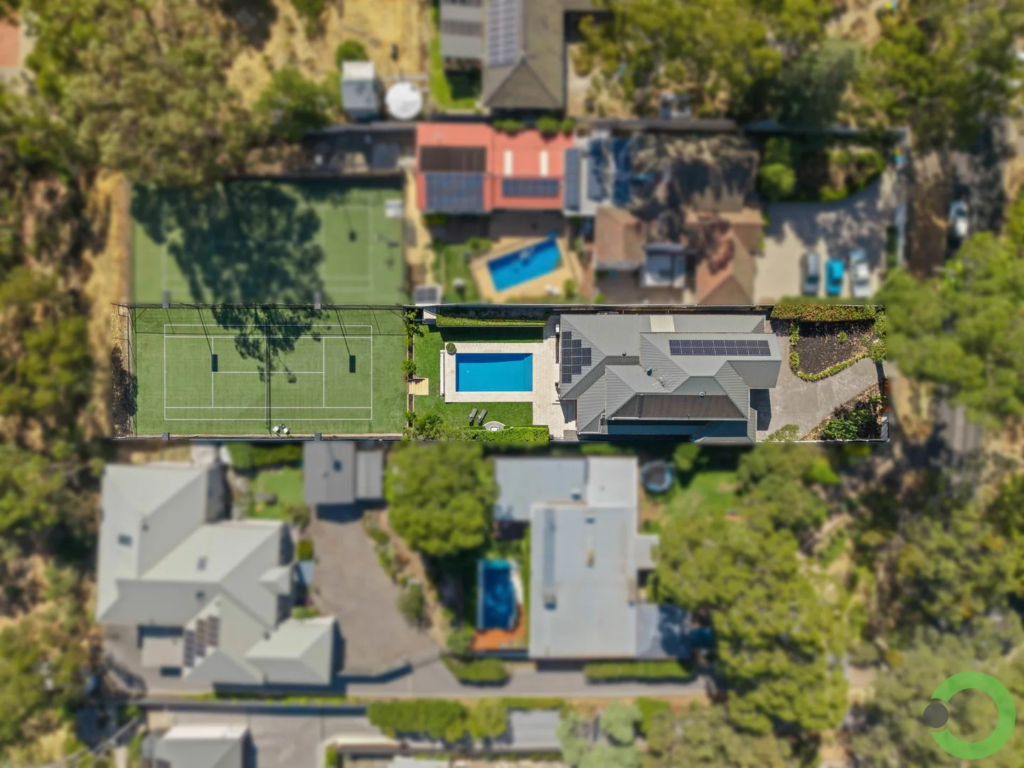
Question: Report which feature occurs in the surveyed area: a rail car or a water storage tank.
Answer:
water storage tank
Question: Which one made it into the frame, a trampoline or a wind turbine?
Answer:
trampoline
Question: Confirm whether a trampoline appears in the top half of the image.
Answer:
No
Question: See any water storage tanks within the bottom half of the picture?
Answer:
No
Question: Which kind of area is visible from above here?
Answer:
residential area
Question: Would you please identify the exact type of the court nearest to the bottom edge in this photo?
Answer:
tennis court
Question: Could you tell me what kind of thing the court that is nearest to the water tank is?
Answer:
tennis court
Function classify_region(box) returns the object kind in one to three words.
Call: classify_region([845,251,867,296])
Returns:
car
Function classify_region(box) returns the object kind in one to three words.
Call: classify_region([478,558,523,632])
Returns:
swimming pool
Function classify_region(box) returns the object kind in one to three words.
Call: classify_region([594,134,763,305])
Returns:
house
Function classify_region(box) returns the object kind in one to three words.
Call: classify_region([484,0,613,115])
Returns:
house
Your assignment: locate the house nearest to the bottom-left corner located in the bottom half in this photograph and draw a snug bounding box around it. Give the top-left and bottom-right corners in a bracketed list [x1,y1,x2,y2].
[156,720,252,768]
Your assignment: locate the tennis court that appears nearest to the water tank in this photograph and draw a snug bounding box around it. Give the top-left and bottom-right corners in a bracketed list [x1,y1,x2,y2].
[132,179,404,305]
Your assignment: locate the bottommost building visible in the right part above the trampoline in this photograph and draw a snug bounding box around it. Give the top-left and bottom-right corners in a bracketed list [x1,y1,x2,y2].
[555,314,782,445]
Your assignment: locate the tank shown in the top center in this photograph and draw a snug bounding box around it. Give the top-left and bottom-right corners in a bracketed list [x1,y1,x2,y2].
[386,82,426,126]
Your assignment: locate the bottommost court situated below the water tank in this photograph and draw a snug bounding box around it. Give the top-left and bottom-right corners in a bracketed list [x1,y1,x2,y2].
[136,308,406,435]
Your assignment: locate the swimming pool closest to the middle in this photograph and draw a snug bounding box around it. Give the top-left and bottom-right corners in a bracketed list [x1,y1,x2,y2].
[453,350,536,395]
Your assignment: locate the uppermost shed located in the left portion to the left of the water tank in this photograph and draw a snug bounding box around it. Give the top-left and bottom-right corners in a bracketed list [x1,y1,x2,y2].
[343,61,377,116]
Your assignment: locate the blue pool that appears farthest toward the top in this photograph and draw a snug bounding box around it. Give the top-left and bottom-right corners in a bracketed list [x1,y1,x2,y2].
[484,234,565,295]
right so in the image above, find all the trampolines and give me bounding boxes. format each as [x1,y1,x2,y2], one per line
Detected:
[641,462,674,492]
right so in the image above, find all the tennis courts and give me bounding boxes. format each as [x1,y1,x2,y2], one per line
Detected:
[132,179,404,305]
[136,308,406,435]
